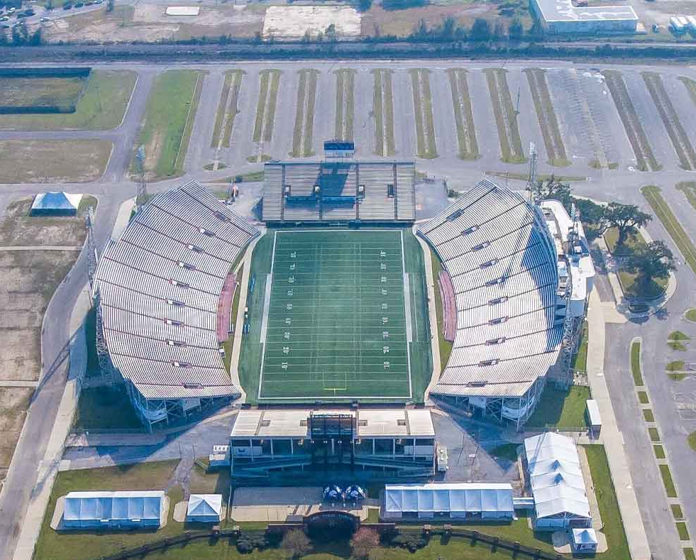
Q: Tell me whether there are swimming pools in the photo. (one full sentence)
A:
No, I can see no swimming pool in this picture.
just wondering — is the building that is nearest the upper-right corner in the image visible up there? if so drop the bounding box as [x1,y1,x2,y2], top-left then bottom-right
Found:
[528,0,637,34]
